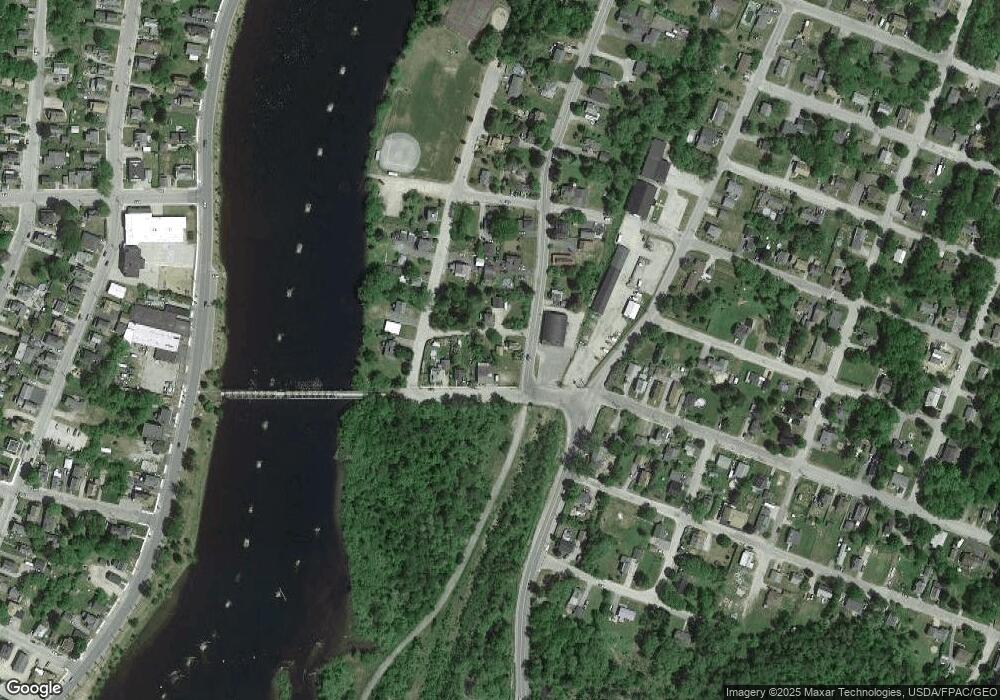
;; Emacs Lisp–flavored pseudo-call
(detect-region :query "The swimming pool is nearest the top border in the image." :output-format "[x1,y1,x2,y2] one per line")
[739,3,758,27]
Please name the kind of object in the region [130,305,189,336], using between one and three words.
building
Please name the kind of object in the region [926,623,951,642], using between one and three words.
house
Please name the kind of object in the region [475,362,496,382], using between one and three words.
house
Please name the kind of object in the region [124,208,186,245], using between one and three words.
building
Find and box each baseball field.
[379,25,480,181]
